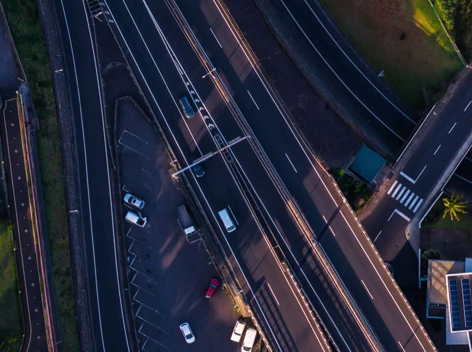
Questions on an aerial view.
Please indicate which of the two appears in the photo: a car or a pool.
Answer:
car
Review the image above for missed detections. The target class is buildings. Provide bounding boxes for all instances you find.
[352,144,386,182]
[421,257,472,352]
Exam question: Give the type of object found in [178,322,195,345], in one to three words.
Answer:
car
